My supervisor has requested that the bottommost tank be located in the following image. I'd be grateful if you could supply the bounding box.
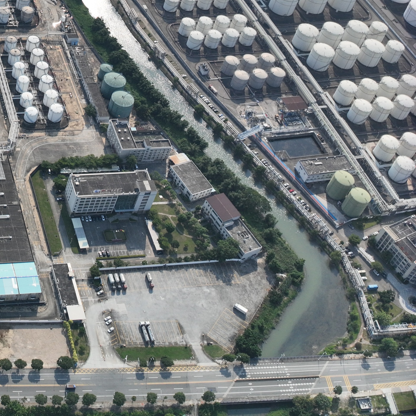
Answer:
[342,189,371,218]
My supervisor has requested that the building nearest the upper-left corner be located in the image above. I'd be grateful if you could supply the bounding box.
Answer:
[59,20,79,46]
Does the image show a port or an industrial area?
industrial area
